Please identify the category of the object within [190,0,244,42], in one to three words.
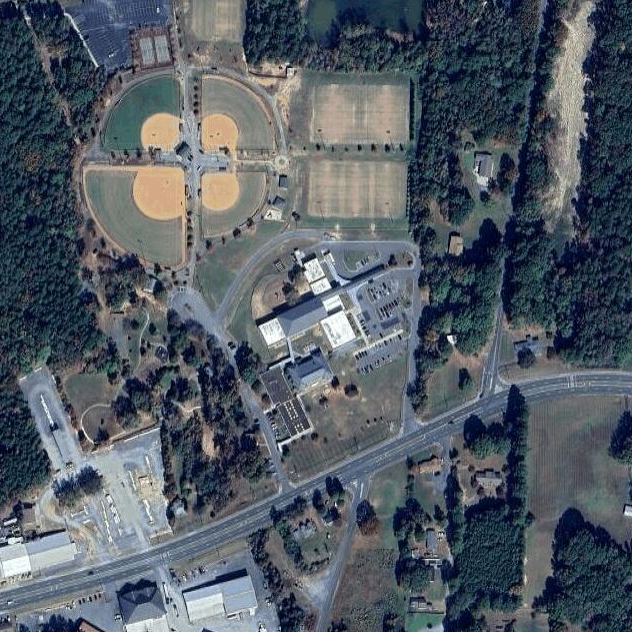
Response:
sports field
